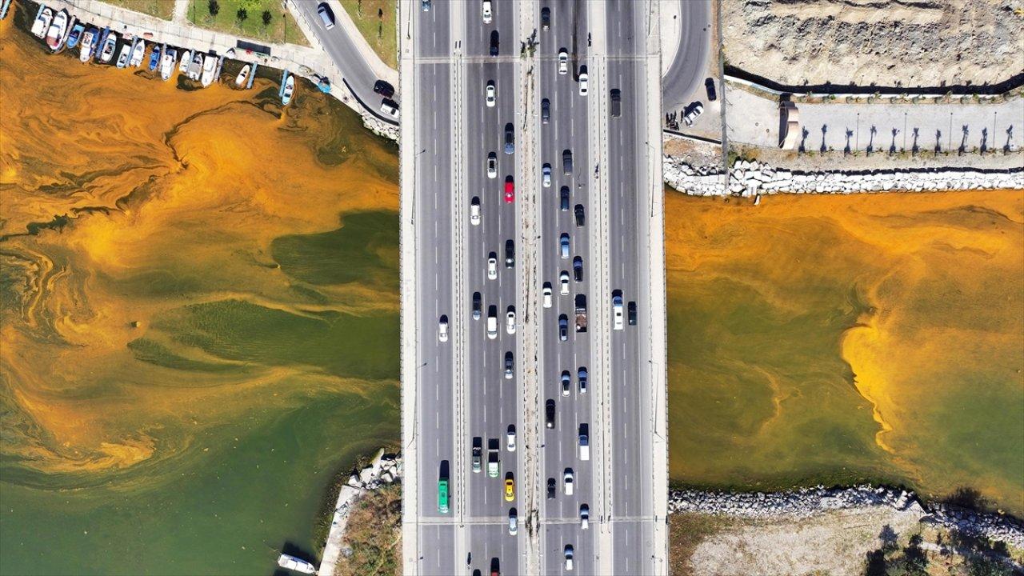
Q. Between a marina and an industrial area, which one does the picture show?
marina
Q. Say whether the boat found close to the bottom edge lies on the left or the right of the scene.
left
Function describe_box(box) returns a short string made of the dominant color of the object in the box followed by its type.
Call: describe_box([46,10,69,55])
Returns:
white boat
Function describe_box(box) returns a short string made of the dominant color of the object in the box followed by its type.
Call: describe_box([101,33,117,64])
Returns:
white boat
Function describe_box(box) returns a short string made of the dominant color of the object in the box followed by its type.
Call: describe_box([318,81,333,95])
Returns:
blue boat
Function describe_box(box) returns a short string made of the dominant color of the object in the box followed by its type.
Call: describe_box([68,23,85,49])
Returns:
blue boat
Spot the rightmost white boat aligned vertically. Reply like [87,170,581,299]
[283,75,296,105]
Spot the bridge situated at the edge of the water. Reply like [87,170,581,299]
[398,0,669,576]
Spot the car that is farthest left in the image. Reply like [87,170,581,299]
[318,5,333,26]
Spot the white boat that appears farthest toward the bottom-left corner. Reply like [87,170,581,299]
[278,554,317,574]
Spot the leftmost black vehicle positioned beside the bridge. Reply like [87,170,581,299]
[374,81,395,97]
